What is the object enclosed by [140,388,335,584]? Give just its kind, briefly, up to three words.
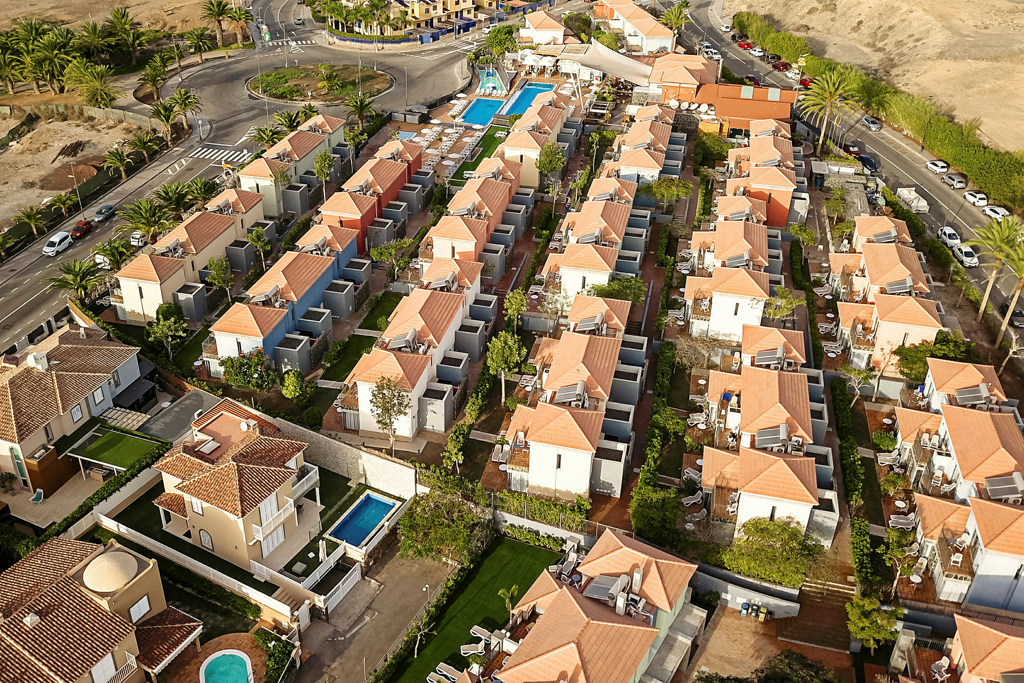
house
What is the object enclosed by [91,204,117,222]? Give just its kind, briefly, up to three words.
car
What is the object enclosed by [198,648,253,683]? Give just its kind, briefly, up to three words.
swimming pool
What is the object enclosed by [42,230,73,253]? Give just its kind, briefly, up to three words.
car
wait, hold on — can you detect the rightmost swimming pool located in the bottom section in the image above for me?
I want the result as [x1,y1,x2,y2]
[325,490,399,551]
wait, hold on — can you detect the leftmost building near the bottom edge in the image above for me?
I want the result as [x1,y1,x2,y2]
[0,533,207,683]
